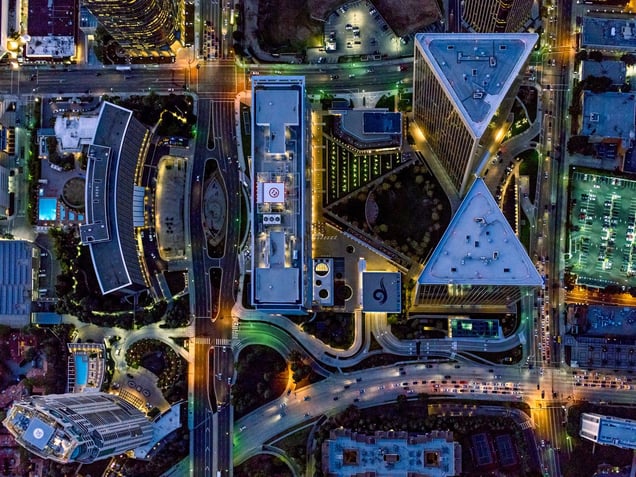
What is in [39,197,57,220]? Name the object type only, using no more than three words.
swimming pool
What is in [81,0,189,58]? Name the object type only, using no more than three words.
building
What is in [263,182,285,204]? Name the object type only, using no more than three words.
helipad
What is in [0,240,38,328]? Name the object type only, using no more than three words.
building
